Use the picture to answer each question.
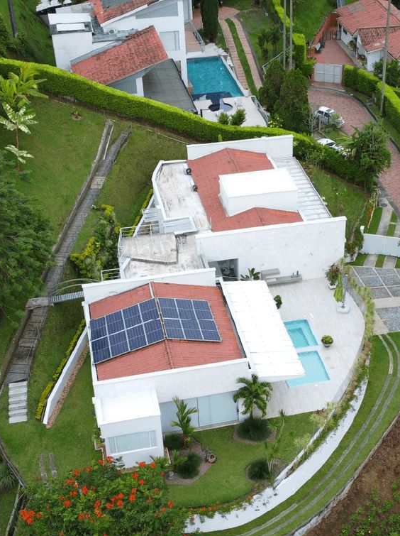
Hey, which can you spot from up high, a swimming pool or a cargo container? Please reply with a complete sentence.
This aerial view contains a swimming pool.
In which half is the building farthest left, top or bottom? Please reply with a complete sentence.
The building farthest left sits in the top half of the picture.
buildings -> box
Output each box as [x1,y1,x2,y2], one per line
[336,0,400,98]
[47,0,205,125]
[81,133,348,478]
